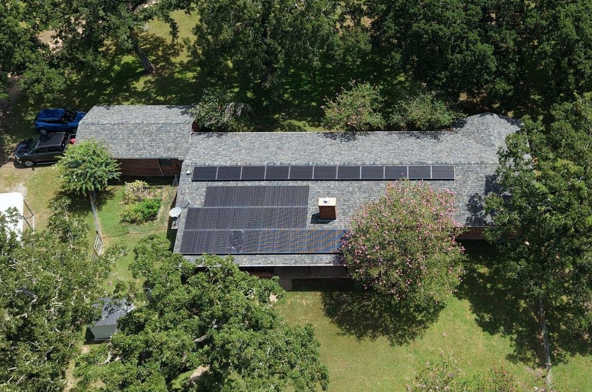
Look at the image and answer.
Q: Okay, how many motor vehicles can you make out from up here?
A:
2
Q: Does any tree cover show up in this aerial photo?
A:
Yes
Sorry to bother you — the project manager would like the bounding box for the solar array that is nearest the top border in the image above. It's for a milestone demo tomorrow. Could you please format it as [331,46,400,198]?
[191,166,455,179]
